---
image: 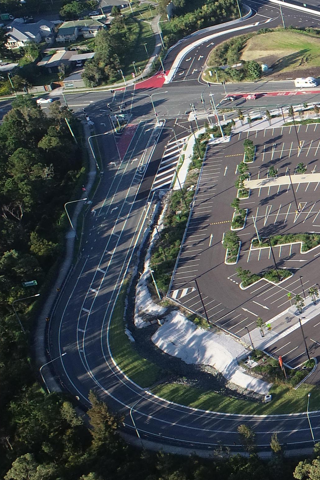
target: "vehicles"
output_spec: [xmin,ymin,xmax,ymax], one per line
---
[224,95,238,101]
[293,77,317,87]
[36,97,52,104]
[245,94,259,100]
